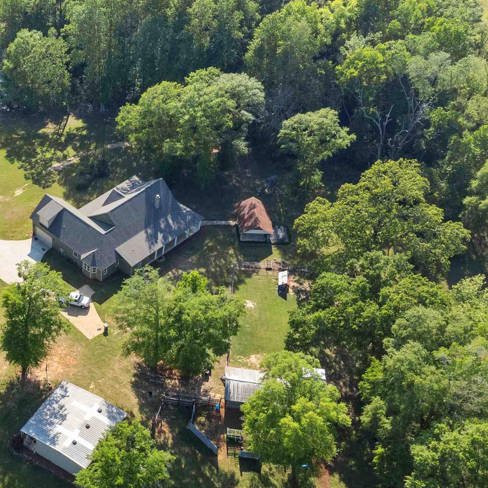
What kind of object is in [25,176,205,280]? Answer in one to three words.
house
